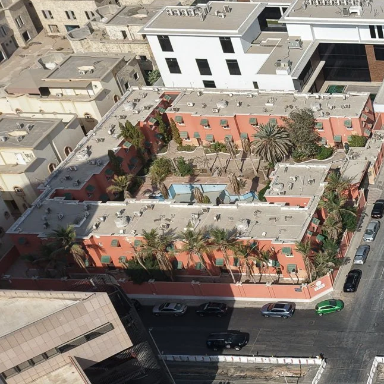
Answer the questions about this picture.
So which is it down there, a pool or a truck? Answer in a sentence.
It is a pool that can be seen here.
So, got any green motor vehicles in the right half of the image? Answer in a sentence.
Yes, there is a green motor vehicle in the right half of the image.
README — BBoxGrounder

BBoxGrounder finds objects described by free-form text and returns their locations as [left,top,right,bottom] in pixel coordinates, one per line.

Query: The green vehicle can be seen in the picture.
[313,300,346,316]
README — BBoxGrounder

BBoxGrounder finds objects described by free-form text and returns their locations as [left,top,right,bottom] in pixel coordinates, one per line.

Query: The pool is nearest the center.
[141,178,262,206]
